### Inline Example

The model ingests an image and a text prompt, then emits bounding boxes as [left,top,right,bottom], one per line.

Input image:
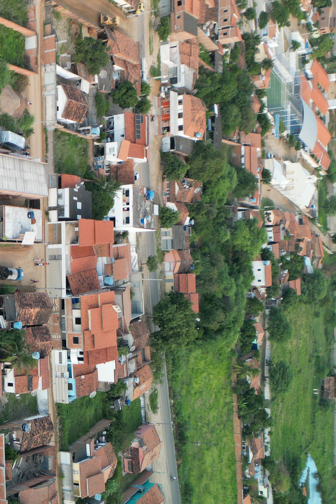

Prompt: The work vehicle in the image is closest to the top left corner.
[100,14,121,33]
